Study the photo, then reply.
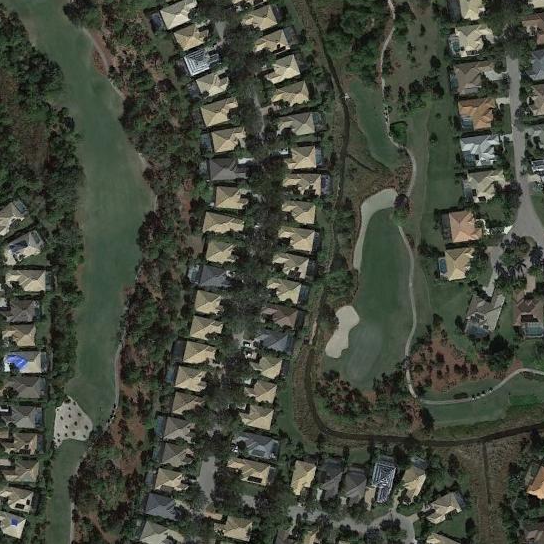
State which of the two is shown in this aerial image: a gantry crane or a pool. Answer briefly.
pool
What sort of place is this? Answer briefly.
residential area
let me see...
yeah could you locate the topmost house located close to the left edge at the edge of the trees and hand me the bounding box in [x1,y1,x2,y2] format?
[0,199,28,235]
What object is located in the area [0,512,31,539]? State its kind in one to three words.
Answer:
house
